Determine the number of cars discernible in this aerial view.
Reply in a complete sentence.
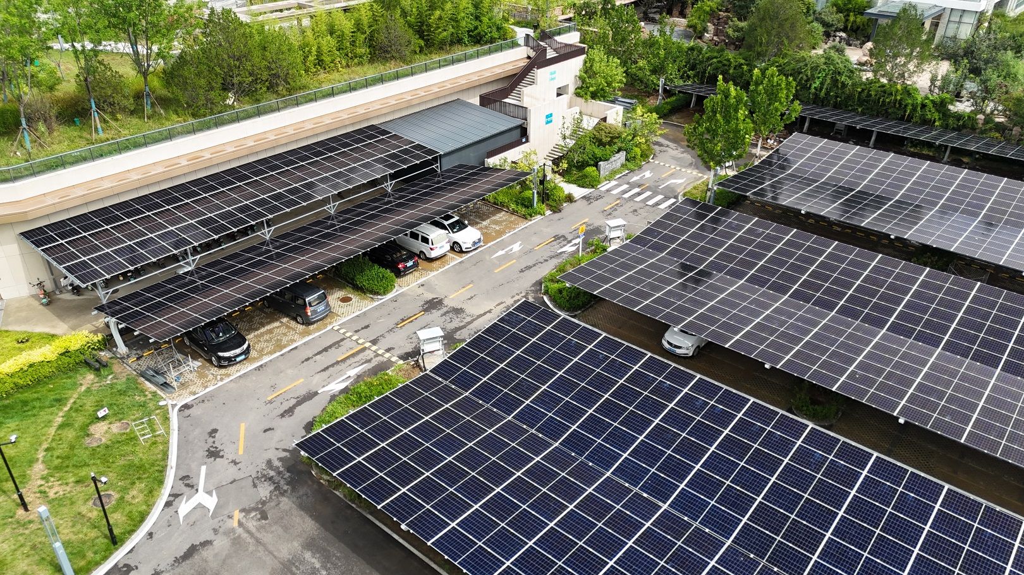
The count of cars comes to 6.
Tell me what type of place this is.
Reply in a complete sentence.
What you see here is a solar farm.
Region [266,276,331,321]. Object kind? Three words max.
car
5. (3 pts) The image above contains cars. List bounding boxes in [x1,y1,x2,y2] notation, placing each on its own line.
[181,315,254,366]
[660,326,707,356]
[431,214,486,252]
[355,236,418,272]
[266,276,331,321]
[398,221,450,258]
